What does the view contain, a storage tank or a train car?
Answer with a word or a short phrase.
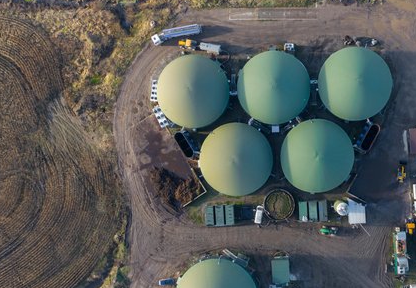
storage tank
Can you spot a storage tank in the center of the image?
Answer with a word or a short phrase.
Yes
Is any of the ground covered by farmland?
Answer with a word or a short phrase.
Yes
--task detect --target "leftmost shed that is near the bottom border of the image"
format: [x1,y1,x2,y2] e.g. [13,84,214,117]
[272,256,289,284]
